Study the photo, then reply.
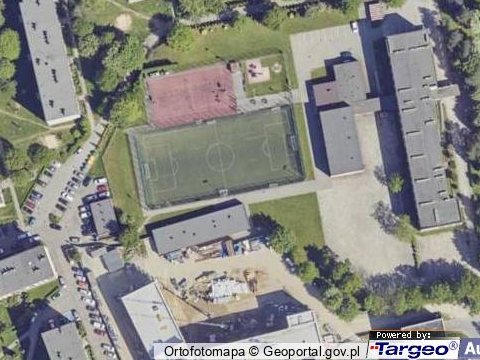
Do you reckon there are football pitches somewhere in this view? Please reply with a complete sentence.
Yes, there's a football pitch here.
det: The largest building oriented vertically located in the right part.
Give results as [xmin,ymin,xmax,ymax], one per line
[387,30,461,231]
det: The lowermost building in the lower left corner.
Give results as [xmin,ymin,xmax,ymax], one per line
[41,323,88,360]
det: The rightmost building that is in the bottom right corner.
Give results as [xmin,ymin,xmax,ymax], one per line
[402,318,447,353]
